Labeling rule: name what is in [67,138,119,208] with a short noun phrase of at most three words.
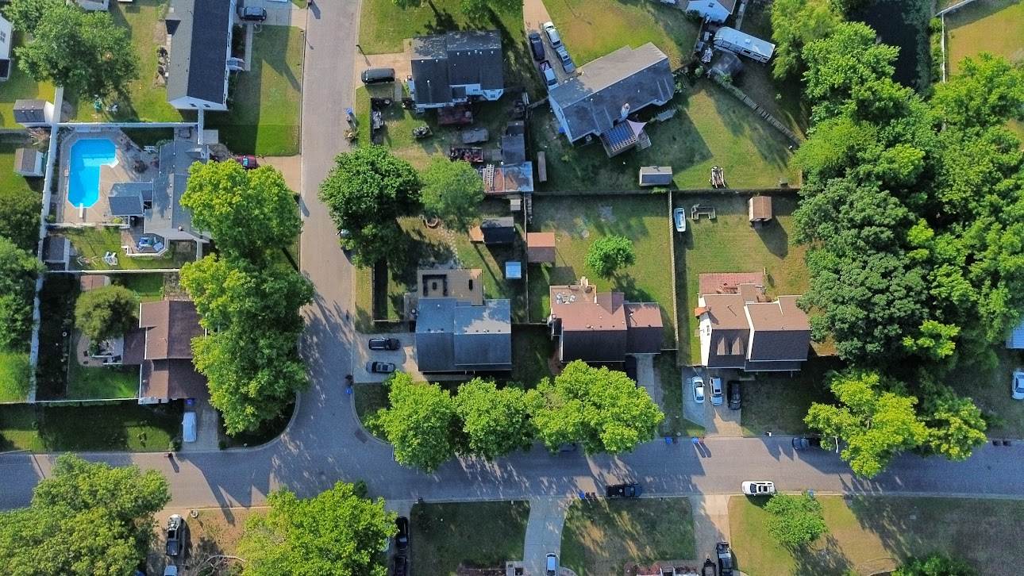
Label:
swimming pool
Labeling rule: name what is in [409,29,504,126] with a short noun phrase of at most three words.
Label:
house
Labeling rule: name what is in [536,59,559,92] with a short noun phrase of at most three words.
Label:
truck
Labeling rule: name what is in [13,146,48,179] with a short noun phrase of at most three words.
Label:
shed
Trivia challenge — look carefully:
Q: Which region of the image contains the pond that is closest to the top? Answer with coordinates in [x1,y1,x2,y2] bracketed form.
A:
[854,0,932,98]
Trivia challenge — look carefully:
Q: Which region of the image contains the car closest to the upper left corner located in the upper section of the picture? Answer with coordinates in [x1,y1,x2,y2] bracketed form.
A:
[238,4,267,21]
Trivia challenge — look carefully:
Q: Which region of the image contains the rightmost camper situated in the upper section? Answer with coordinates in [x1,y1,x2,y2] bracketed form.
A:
[712,23,776,65]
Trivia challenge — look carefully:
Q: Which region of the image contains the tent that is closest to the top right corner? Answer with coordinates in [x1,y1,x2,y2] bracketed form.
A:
[715,47,746,79]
